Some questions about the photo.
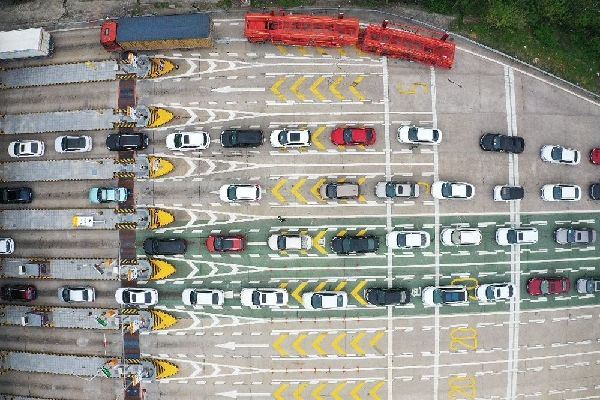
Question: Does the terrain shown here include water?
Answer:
No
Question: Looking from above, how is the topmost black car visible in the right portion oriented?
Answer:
horizontally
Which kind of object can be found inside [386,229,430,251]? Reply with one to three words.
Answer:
car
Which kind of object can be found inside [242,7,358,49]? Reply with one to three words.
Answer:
truck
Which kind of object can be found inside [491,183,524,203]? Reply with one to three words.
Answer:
car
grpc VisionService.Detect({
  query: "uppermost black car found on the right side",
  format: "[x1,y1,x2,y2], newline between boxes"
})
[478,132,525,153]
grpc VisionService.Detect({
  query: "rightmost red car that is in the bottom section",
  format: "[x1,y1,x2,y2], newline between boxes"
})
[524,276,571,298]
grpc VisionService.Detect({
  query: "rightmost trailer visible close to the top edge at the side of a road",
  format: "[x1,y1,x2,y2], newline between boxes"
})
[357,16,457,71]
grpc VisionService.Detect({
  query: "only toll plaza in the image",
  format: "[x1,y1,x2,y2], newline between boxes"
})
[0,25,179,400]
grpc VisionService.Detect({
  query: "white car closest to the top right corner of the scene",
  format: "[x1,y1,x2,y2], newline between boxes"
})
[538,143,580,165]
